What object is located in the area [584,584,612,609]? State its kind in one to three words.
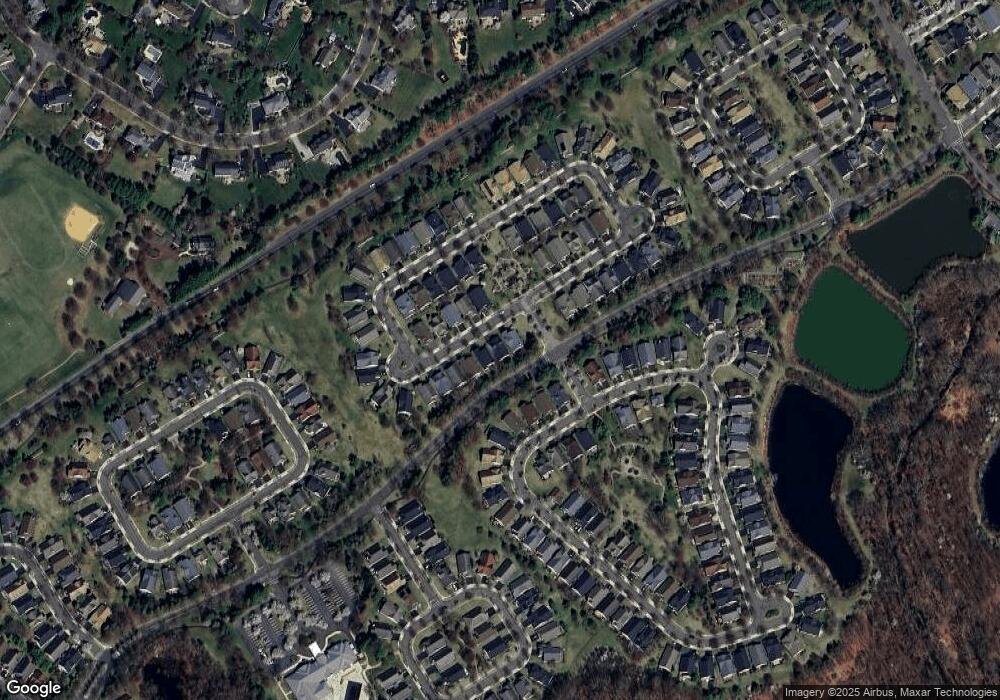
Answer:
house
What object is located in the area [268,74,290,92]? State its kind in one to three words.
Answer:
swimming pool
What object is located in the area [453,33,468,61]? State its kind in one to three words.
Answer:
swimming pool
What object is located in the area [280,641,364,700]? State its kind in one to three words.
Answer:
building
